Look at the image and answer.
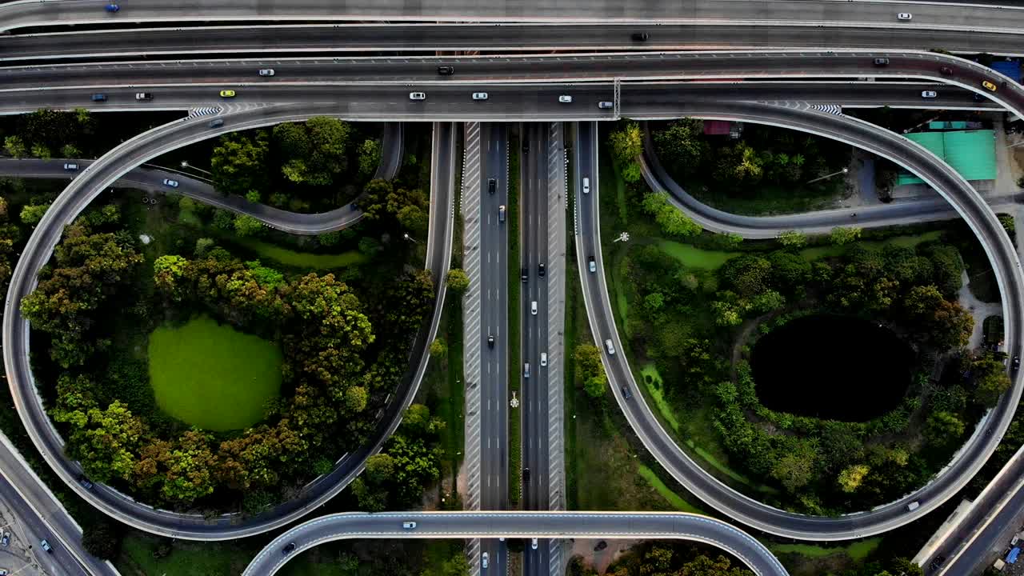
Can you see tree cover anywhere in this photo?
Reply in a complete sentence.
Yes, tree cover shows up in the scene.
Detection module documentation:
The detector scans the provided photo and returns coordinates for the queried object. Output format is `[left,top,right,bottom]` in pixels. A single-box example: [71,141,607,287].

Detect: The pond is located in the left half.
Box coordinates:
[149,317,283,431]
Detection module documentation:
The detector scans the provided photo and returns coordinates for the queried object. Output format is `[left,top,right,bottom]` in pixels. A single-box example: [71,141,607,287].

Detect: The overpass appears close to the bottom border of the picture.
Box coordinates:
[243,509,788,576]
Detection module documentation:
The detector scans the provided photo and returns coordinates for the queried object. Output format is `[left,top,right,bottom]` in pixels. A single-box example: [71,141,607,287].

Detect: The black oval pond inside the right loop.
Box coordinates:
[750,313,915,422]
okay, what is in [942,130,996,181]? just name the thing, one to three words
building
